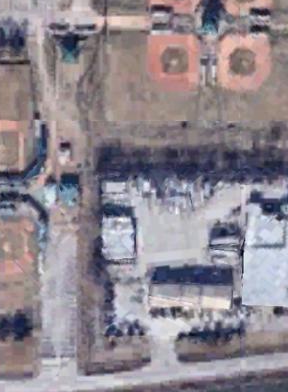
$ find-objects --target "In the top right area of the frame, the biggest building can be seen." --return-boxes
[198,5,222,31]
